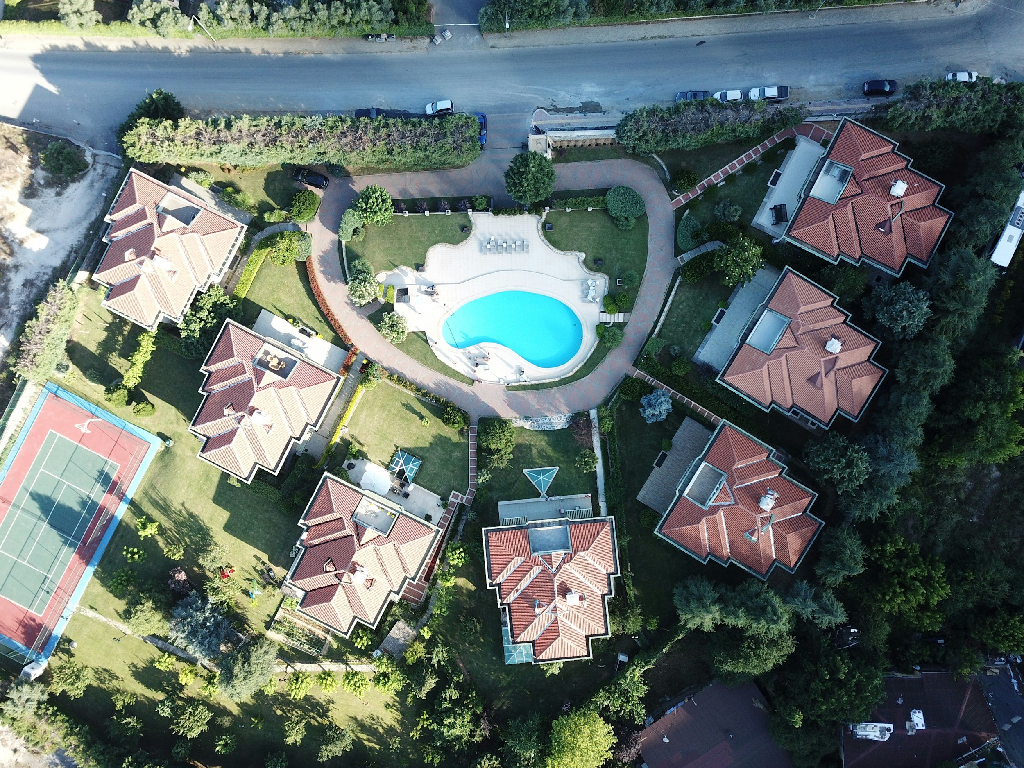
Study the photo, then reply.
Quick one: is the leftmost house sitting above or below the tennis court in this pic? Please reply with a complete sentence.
Looking at the scene, the leftmost house is located above the tennis court.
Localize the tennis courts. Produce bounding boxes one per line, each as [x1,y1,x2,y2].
[0,380,162,660]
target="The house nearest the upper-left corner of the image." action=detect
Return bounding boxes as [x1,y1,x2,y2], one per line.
[94,168,250,332]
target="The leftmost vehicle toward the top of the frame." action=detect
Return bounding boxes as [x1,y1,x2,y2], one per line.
[294,166,329,192]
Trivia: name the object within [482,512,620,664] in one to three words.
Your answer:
house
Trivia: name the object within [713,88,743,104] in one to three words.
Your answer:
car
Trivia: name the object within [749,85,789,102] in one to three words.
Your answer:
vehicle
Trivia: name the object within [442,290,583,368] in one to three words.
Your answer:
swimming pool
